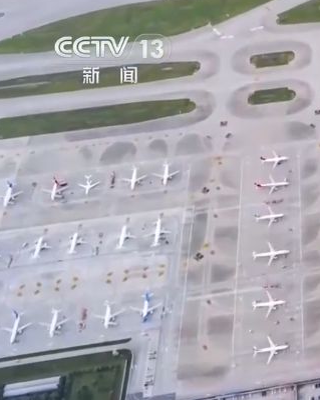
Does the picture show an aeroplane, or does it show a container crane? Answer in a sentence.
The image shows an aeroplane.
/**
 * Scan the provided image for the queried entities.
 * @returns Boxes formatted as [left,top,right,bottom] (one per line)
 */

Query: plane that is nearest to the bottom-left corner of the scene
[0,311,32,342]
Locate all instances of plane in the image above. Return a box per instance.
[142,218,171,246]
[58,233,87,254]
[0,311,32,342]
[253,289,285,316]
[154,163,179,184]
[253,240,290,265]
[254,332,288,363]
[122,168,148,189]
[79,174,101,195]
[256,174,289,194]
[22,237,52,258]
[93,302,124,329]
[0,184,23,205]
[42,178,69,199]
[255,205,284,227]
[132,294,163,321]
[261,149,288,167]
[39,309,70,337]
[107,226,135,247]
